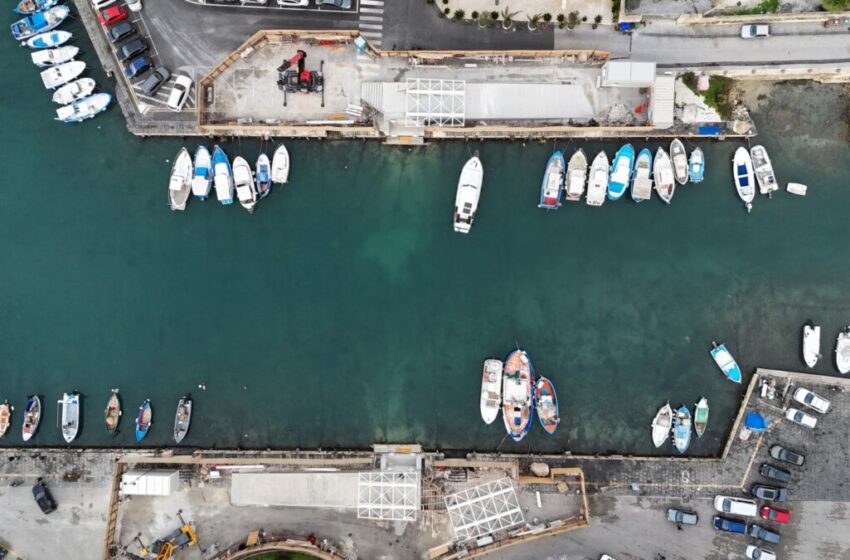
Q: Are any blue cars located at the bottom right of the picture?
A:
Yes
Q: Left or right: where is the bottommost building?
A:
left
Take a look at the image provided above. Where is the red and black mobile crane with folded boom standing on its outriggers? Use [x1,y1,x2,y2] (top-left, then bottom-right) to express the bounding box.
[276,50,325,109]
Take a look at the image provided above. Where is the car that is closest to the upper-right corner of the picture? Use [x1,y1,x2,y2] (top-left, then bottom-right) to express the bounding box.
[739,24,769,40]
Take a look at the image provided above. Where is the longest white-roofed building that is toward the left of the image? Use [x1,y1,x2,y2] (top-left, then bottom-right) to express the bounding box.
[122,470,178,495]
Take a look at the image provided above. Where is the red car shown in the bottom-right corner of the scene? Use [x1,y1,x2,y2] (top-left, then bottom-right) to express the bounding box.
[757,504,789,522]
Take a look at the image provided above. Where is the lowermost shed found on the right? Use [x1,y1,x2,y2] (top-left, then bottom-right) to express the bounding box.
[648,75,676,129]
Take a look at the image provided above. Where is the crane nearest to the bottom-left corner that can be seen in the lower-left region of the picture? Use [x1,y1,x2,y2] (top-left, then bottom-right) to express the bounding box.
[125,509,208,560]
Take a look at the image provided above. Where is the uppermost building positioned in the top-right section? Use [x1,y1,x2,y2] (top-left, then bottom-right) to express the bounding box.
[603,62,657,86]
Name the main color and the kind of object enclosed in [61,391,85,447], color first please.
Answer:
white boat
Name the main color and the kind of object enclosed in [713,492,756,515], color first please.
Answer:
white vehicle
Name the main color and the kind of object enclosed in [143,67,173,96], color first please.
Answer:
gray car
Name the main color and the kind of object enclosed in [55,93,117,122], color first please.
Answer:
white boat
